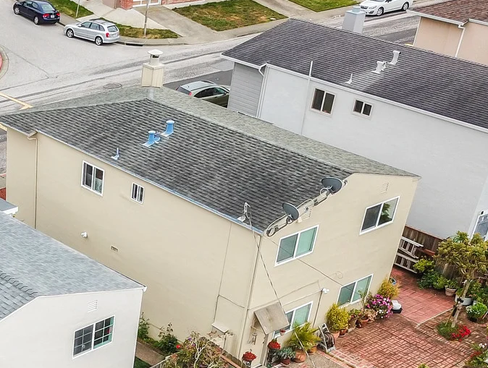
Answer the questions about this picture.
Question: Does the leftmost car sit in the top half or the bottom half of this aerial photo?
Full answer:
Seen from above, the leftmost car lies in the top half of the view.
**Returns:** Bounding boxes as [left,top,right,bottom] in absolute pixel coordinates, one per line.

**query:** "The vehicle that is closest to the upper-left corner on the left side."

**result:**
[10,0,63,25]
